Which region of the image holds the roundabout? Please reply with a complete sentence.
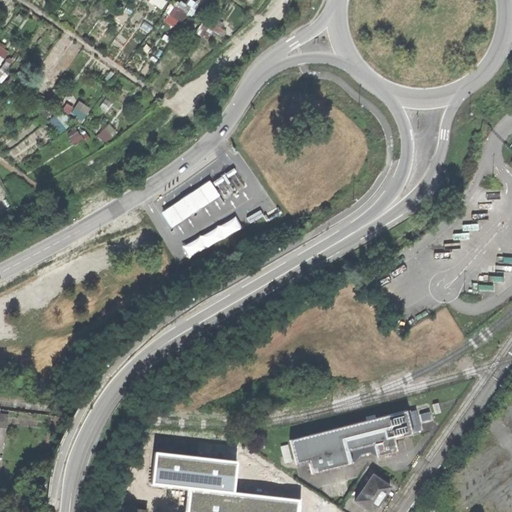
Look in the top right portion of the view to spot the roundabout.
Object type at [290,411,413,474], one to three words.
building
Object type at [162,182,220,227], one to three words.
building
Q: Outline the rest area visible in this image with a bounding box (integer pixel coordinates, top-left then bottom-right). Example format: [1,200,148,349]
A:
[147,146,277,262]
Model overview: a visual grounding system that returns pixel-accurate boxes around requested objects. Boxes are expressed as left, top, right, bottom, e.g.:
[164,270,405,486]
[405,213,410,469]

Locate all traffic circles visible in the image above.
[328,0,512,108]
